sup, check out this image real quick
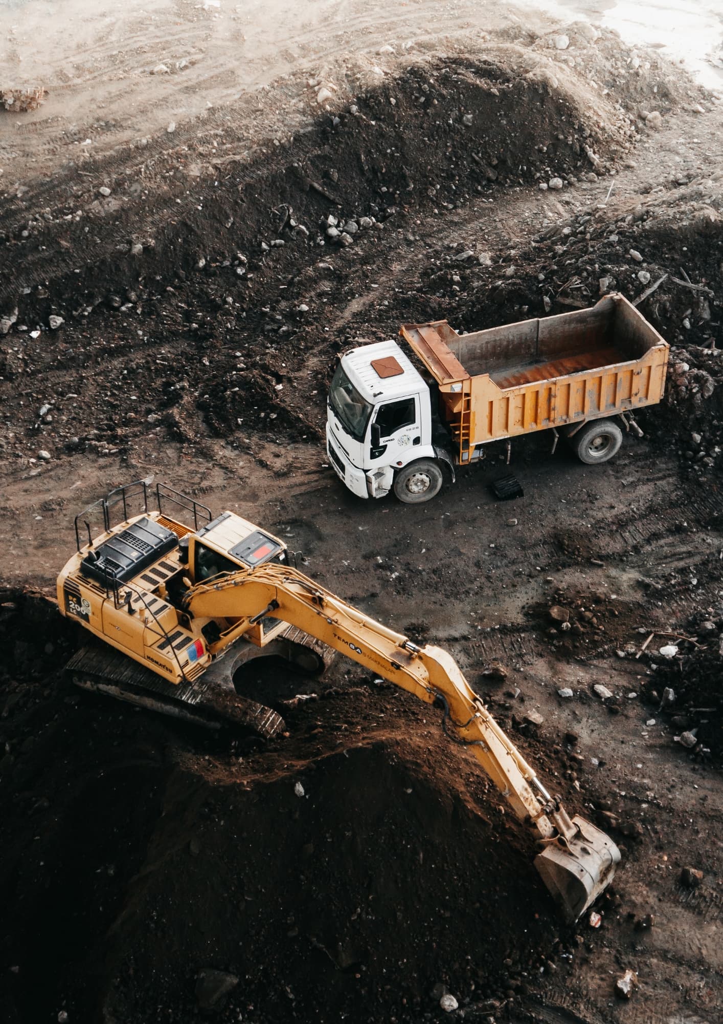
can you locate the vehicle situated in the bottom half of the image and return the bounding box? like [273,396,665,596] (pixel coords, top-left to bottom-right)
[57,483,626,929]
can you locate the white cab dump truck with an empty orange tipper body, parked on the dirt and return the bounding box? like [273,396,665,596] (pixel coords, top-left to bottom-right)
[327,291,671,504]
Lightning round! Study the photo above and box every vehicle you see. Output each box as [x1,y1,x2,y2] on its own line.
[57,483,626,929]
[327,291,671,504]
